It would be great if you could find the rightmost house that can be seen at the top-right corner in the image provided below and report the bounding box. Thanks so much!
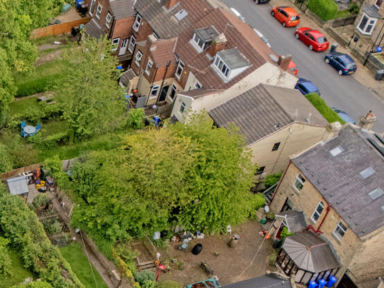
[351,0,384,56]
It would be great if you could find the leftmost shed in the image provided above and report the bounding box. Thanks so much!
[7,177,28,200]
